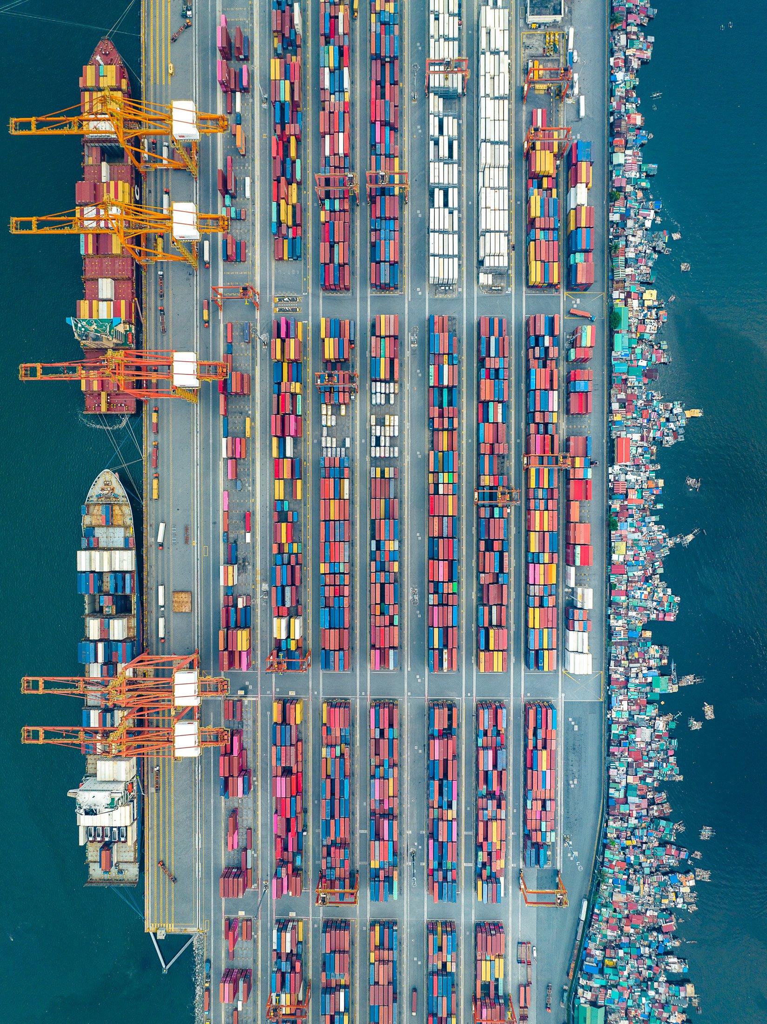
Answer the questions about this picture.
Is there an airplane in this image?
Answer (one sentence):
No, this view has no airplane in it.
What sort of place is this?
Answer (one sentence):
The area seen from above is a port.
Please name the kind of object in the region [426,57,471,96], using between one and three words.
container crane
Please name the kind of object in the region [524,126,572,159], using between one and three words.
container crane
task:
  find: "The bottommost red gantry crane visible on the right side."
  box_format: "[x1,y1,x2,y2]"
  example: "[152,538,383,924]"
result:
[472,992,518,1024]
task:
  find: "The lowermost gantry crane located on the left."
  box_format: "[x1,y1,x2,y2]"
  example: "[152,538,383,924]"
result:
[267,979,312,1019]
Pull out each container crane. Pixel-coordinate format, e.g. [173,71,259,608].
[9,90,229,187]
[367,170,410,204]
[267,979,312,1019]
[317,369,360,393]
[22,644,230,708]
[521,450,572,472]
[317,172,360,206]
[20,694,230,760]
[426,57,471,96]
[524,66,574,102]
[474,486,520,507]
[317,869,359,905]
[520,869,568,905]
[213,284,261,312]
[8,192,229,274]
[20,349,229,408]
[524,126,572,159]
[267,648,311,674]
[472,992,518,1024]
